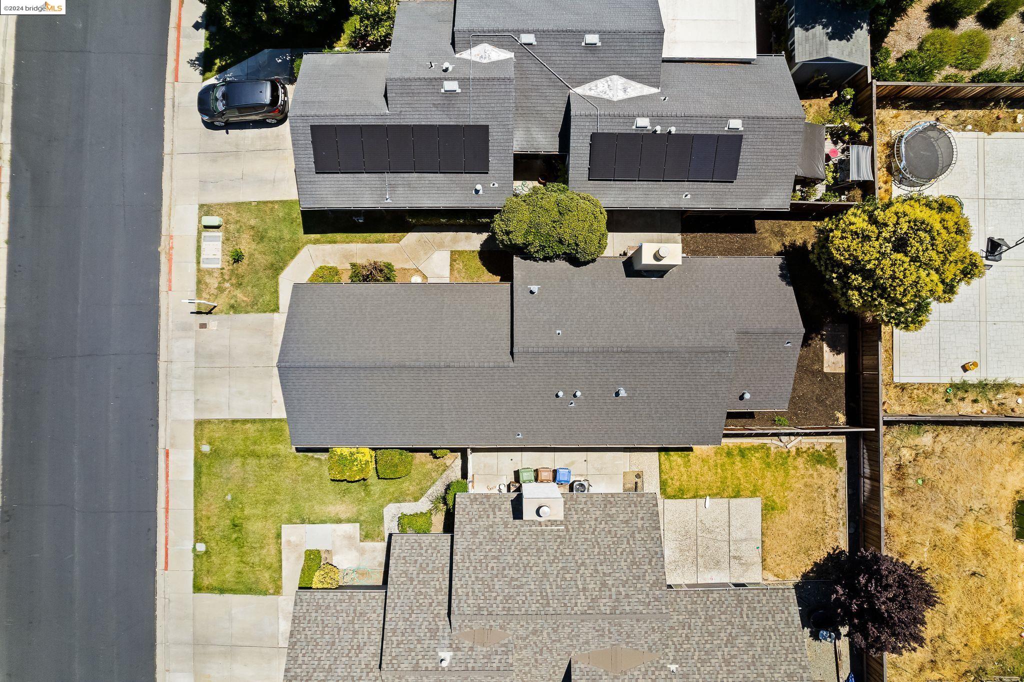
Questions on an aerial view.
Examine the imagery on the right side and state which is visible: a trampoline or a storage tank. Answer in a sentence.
What appears on the right side is a trampoline.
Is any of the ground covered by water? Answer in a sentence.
No, no water is visible.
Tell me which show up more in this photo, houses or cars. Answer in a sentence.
There are fewer cars than houses.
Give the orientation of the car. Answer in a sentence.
In this picture, the car lies from side to side.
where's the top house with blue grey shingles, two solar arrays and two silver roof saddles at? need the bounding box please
[287,0,808,216]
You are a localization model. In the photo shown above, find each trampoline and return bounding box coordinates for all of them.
[888,120,958,185]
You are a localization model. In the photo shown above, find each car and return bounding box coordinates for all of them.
[197,77,292,127]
